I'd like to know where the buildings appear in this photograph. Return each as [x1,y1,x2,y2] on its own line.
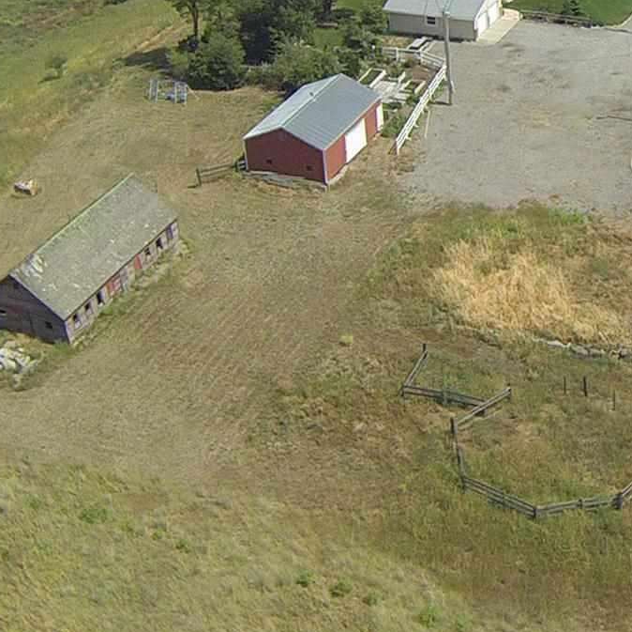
[0,176,181,344]
[383,0,503,42]
[242,74,383,189]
